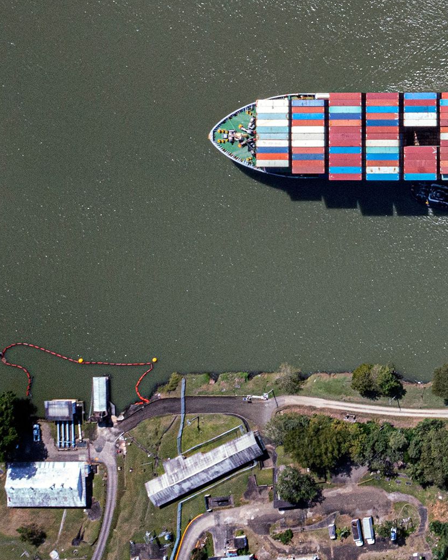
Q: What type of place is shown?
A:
port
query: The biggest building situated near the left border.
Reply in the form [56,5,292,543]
[5,457,96,507]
